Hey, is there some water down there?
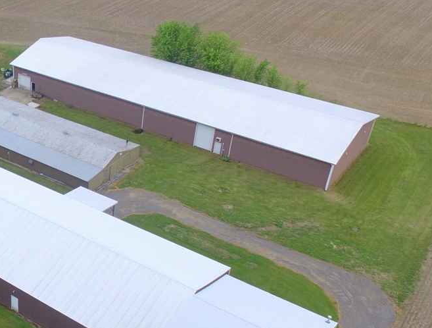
No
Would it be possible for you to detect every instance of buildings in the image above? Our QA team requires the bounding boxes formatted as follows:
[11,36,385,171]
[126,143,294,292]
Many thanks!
[0,96,141,189]
[8,36,379,192]
[0,167,338,328]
